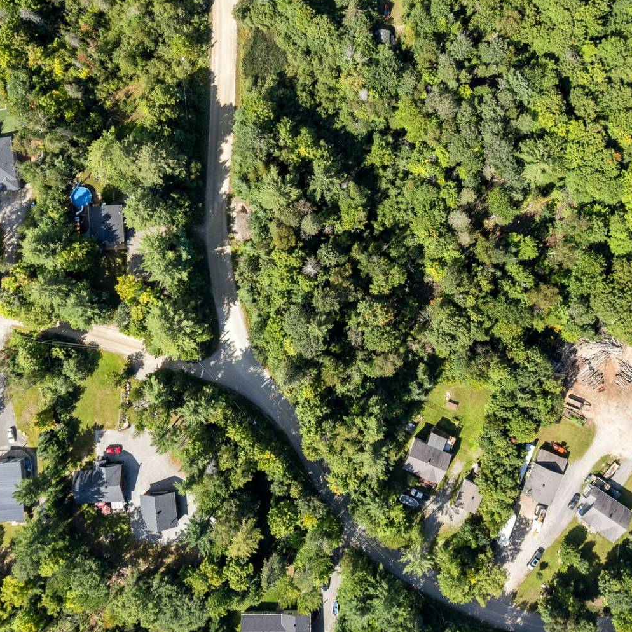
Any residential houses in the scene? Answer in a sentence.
Yes, there's a residential house down there.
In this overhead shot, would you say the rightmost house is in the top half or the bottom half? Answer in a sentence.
The rightmost house sits in the bottom half of the picture.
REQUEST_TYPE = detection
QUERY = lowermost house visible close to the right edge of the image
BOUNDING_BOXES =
[580,478,632,543]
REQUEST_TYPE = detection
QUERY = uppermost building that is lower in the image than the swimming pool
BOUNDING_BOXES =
[80,204,126,250]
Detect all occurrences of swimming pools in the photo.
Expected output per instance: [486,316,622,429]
[69,186,91,206]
